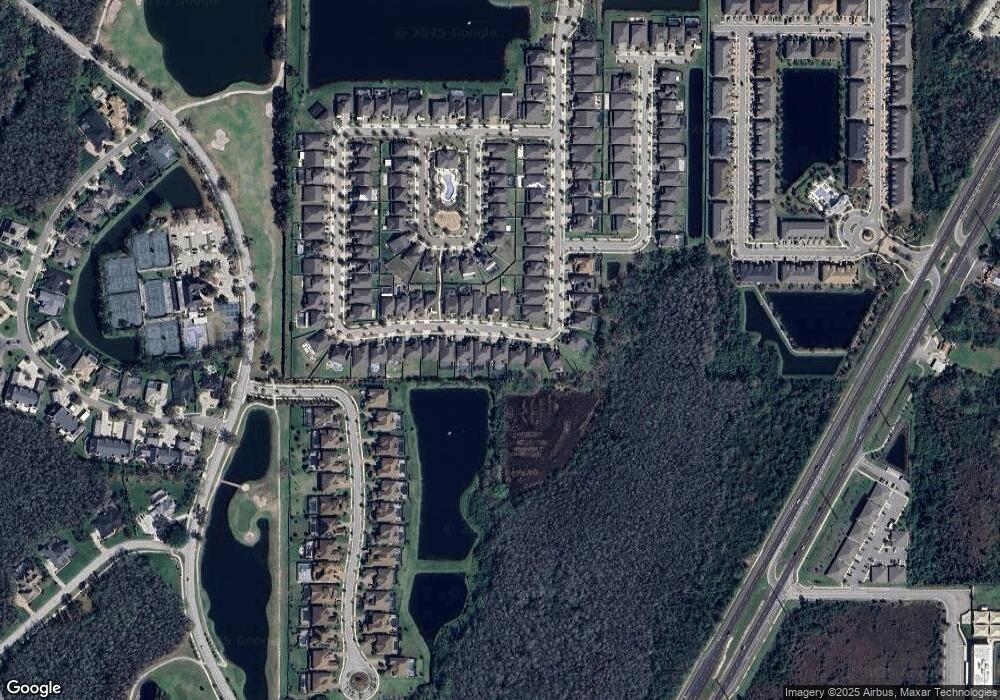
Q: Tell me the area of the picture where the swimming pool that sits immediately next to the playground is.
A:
top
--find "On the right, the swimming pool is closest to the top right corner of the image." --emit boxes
[809,177,841,211]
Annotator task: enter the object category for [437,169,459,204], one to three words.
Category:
swimming pool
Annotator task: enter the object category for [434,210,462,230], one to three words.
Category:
playground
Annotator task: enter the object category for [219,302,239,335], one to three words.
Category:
sports court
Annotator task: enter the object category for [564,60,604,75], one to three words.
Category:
house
